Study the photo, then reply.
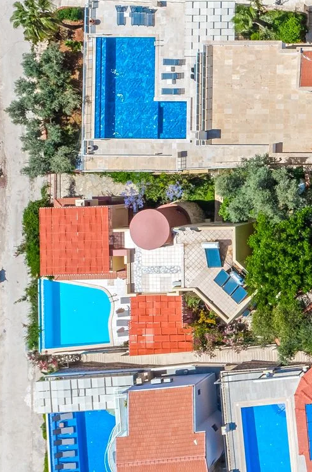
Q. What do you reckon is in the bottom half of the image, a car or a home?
home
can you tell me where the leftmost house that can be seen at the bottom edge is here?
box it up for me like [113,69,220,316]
[102,363,234,472]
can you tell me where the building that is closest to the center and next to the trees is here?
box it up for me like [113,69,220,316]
[53,193,259,323]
